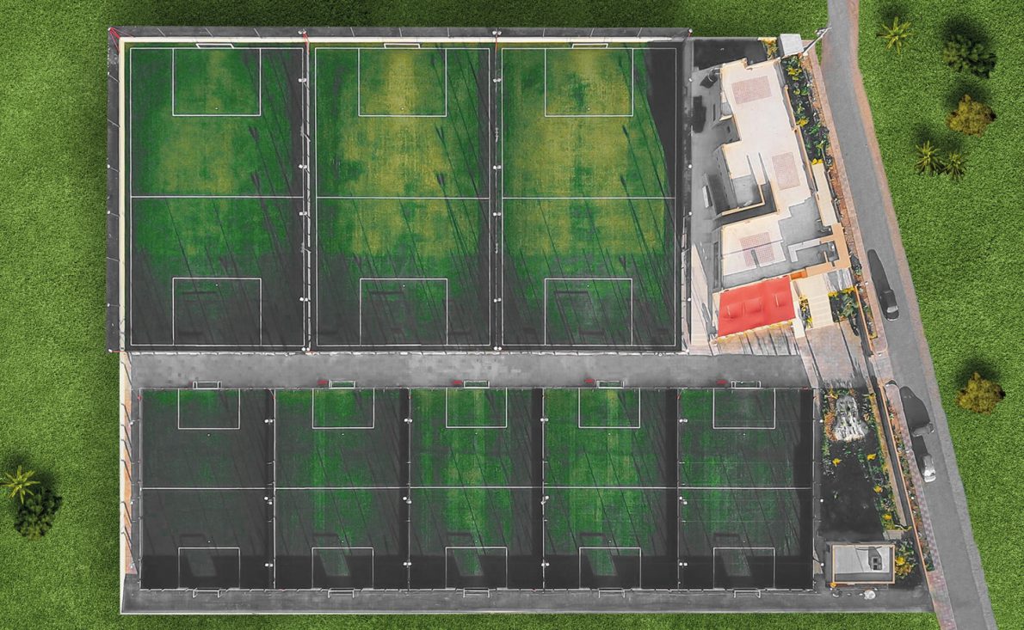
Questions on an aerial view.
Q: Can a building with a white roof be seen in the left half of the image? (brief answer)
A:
No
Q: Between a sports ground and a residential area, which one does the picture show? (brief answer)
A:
sports ground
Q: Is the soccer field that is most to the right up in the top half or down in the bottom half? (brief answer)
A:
bottom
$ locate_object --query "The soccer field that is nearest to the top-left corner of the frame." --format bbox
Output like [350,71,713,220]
[126,43,309,348]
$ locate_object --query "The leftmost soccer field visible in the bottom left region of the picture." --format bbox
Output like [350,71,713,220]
[141,389,274,590]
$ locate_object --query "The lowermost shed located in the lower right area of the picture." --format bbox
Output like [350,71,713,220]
[825,540,895,584]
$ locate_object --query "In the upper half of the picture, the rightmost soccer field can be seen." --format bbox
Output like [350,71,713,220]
[497,43,683,348]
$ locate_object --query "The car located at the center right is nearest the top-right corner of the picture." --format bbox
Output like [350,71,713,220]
[879,287,900,321]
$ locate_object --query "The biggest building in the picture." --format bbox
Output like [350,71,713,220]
[706,58,852,289]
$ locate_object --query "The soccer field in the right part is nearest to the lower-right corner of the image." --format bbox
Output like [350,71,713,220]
[679,389,815,590]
